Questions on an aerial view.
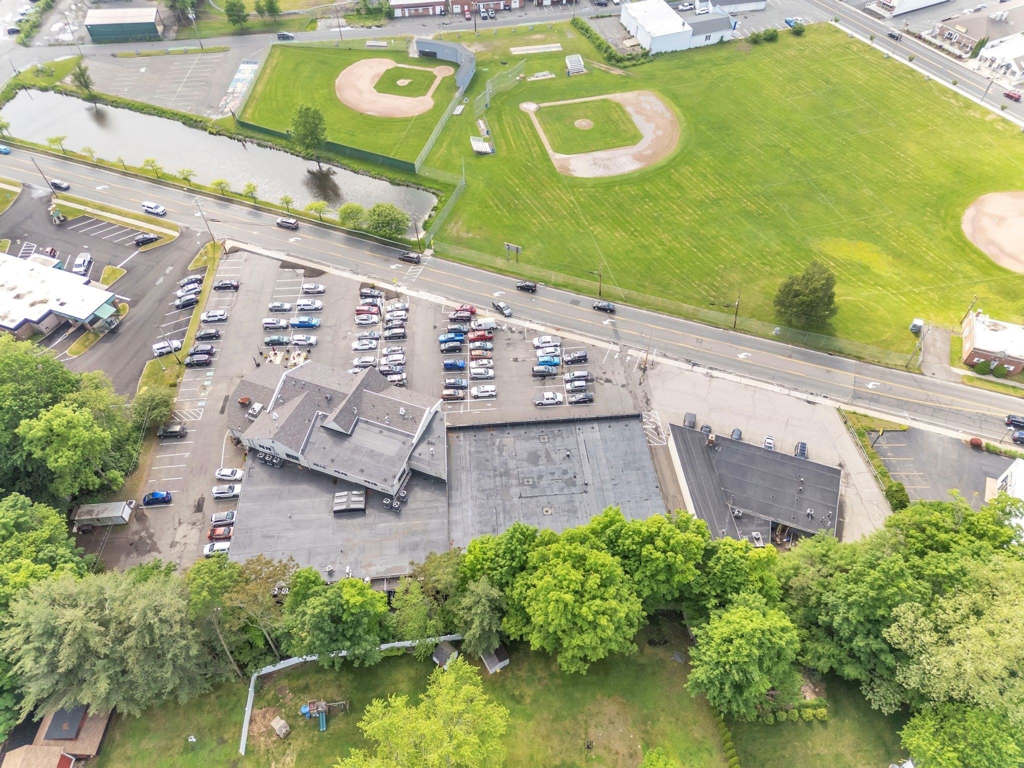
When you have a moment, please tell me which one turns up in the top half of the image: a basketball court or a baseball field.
baseball field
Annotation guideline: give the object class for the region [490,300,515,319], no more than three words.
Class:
vehicle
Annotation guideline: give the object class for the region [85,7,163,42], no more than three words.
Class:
barn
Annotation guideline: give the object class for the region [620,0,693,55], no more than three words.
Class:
building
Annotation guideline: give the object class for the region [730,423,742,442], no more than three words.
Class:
vehicle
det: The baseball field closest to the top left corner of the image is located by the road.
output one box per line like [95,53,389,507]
[240,45,461,173]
